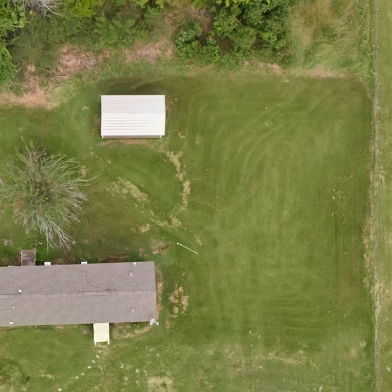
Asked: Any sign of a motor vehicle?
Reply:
No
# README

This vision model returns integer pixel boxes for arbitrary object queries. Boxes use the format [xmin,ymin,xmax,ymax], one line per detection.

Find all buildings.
[97,95,166,141]
[0,261,157,326]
